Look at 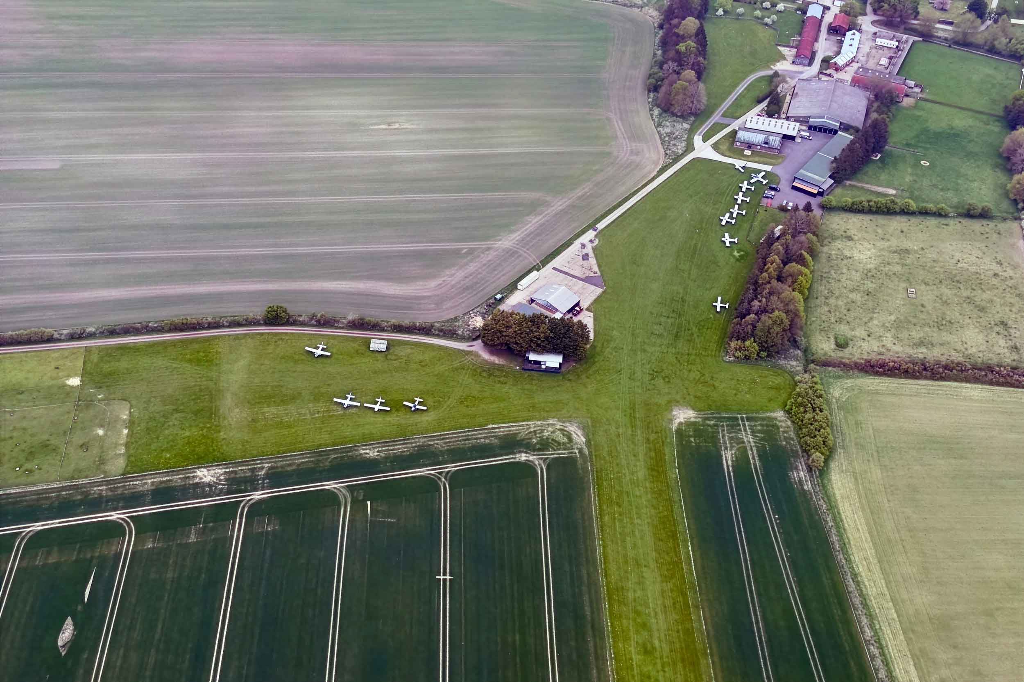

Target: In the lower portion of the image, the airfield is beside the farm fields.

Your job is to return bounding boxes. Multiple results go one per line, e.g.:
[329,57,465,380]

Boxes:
[2,159,791,682]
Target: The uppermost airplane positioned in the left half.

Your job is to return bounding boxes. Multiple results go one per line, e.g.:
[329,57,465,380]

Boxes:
[305,342,332,357]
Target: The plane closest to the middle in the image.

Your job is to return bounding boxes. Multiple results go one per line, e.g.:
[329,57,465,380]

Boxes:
[403,396,427,410]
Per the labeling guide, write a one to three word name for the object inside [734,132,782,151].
shed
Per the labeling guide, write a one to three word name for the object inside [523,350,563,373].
building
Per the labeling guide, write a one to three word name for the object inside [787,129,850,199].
hangar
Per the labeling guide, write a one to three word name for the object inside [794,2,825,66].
barn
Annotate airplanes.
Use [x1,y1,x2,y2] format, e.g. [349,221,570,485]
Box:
[364,397,390,413]
[741,181,753,191]
[735,192,748,204]
[722,233,736,246]
[333,392,361,409]
[403,396,427,410]
[305,342,332,357]
[734,163,746,172]
[730,205,744,217]
[751,172,767,182]
[713,297,728,312]
[721,213,734,224]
